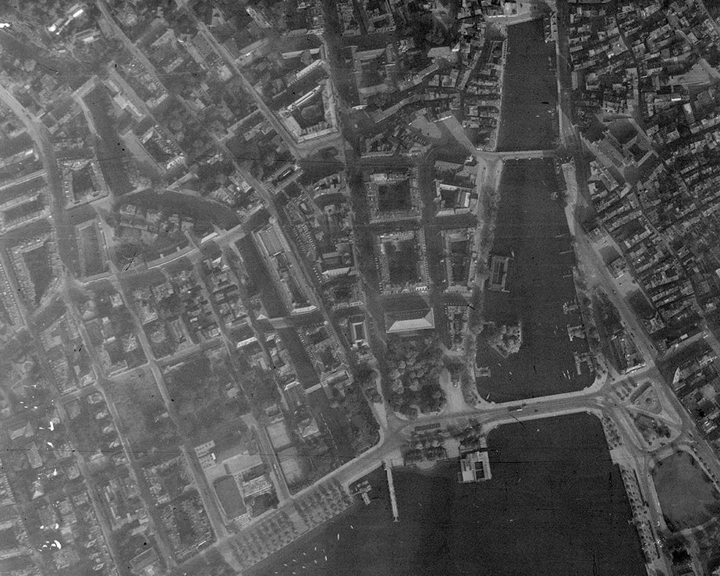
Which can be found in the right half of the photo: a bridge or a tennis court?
bridge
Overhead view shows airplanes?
No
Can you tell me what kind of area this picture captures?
residential area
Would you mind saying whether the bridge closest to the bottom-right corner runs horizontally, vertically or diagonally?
horizontally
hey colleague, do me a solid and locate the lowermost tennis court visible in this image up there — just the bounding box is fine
[278,448,302,476]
